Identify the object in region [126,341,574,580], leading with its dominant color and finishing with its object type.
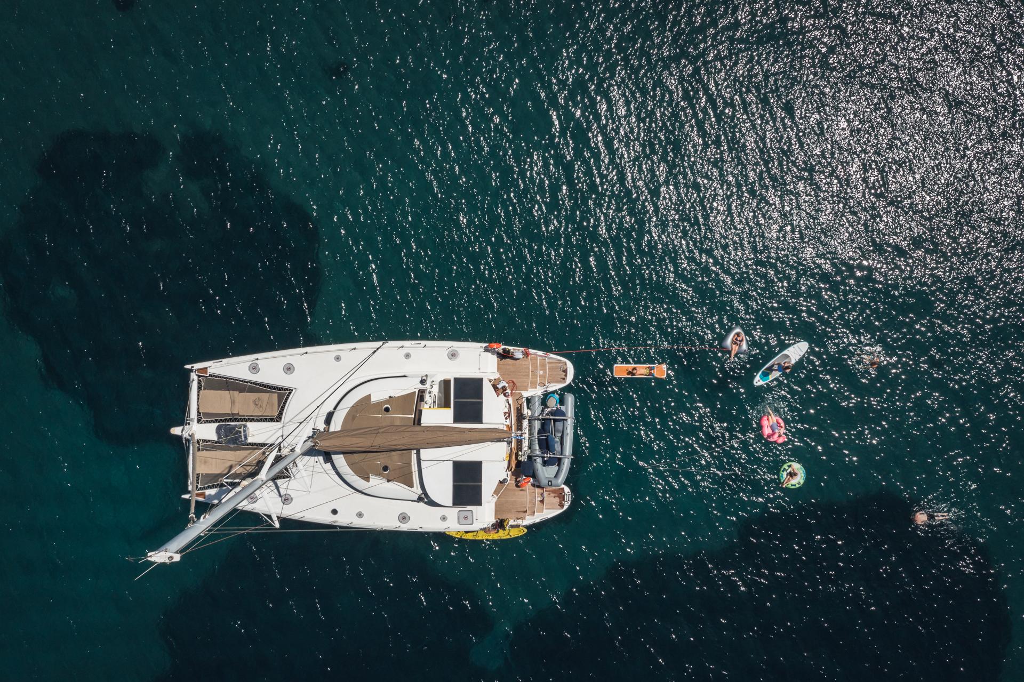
white boat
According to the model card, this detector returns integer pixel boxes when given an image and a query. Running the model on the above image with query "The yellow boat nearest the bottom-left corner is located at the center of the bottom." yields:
[445,527,527,539]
